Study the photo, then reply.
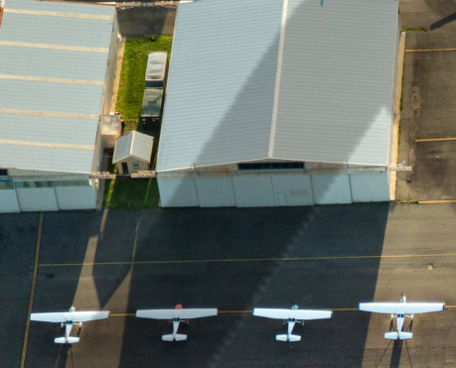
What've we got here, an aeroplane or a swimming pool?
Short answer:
aeroplane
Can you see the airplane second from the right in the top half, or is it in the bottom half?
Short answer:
bottom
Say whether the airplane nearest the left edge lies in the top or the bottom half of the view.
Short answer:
bottom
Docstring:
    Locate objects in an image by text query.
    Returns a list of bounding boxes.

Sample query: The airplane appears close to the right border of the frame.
[359,293,445,339]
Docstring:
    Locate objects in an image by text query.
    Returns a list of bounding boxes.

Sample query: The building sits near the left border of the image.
[0,0,146,213]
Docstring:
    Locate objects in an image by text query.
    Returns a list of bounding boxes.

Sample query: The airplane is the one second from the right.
[254,302,333,343]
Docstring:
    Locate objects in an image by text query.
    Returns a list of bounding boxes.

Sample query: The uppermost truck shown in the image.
[146,52,169,97]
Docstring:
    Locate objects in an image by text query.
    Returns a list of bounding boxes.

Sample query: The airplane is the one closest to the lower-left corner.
[30,305,109,345]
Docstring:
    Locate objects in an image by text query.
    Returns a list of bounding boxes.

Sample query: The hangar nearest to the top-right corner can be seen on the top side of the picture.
[131,0,411,208]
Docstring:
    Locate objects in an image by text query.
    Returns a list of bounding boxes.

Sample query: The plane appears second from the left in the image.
[136,299,218,343]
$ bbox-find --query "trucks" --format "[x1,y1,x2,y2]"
[146,52,169,97]
[142,90,163,138]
